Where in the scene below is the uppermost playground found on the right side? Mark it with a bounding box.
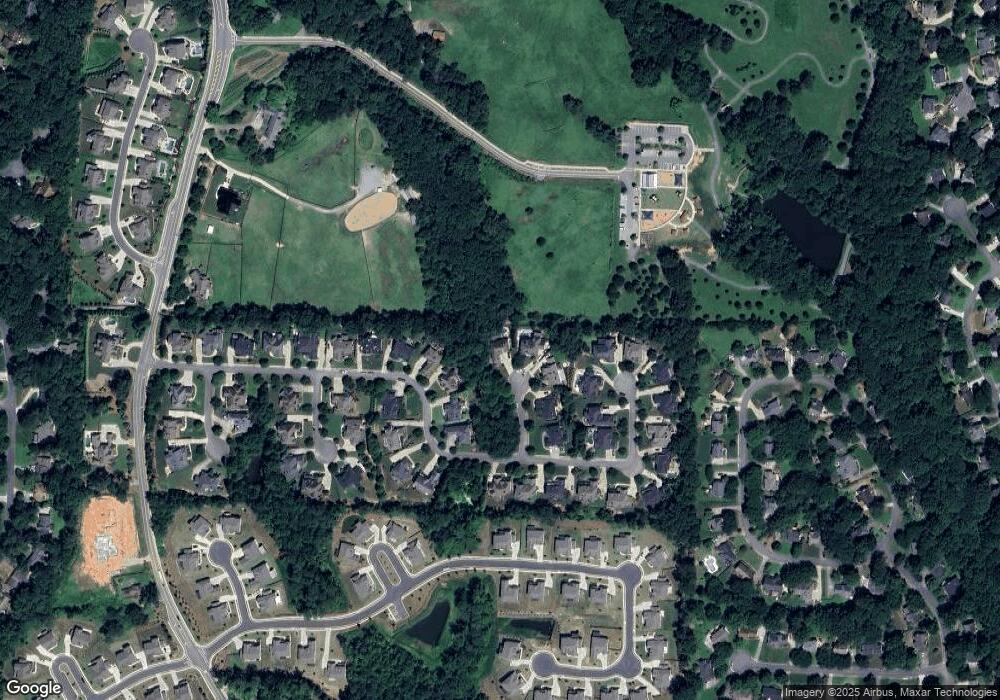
[657,172,686,186]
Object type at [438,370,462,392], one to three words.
house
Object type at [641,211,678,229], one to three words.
playground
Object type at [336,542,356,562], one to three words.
house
